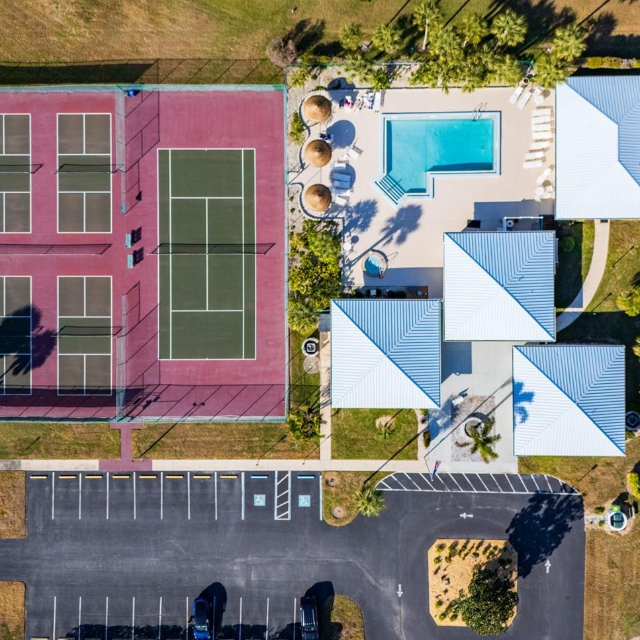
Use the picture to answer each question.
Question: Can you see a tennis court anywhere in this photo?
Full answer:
Yes, the image includes a tennis court.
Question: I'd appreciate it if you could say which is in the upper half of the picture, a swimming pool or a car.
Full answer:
Looking in the upper half of the picture, you will find a swimming pool.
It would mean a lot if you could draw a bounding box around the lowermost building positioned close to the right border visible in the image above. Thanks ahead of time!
[512,344,626,457]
